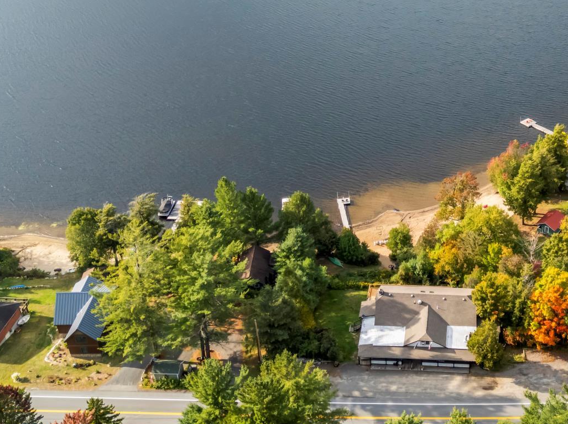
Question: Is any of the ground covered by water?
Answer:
Yes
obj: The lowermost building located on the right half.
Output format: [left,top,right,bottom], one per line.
[345,283,477,375]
